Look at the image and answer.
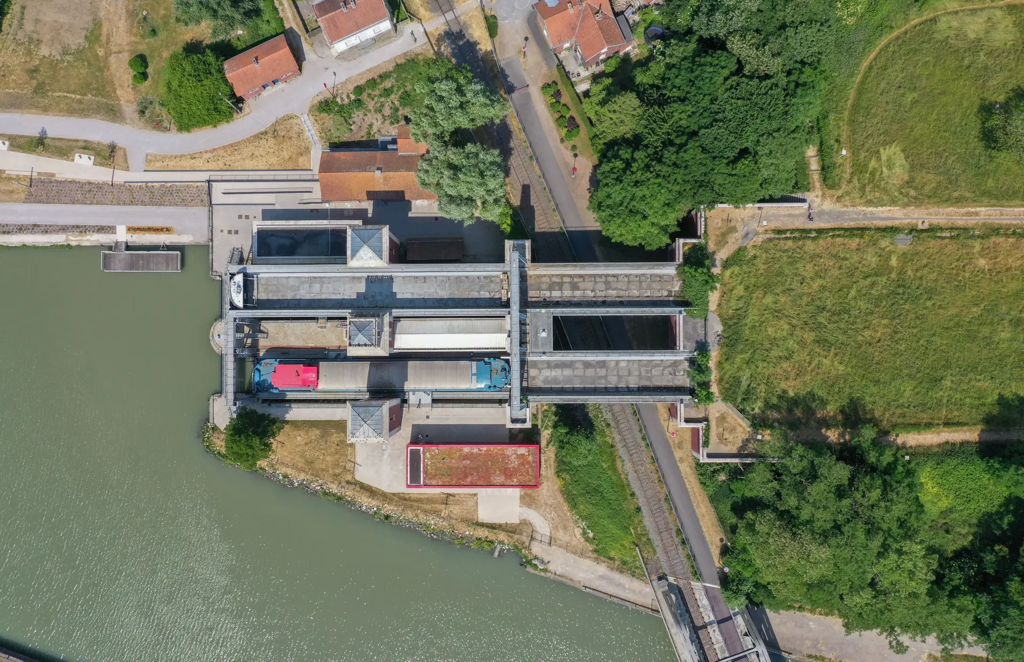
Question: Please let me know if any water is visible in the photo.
Yes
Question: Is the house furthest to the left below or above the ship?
above it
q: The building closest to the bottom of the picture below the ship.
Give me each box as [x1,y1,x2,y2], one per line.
[407,444,540,488]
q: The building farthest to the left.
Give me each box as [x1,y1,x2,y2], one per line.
[224,34,304,105]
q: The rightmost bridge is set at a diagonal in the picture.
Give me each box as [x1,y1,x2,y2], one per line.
[635,545,772,662]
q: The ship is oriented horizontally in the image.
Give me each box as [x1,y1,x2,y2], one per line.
[253,359,509,392]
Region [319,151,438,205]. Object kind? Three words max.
building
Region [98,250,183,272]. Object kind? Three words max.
pier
